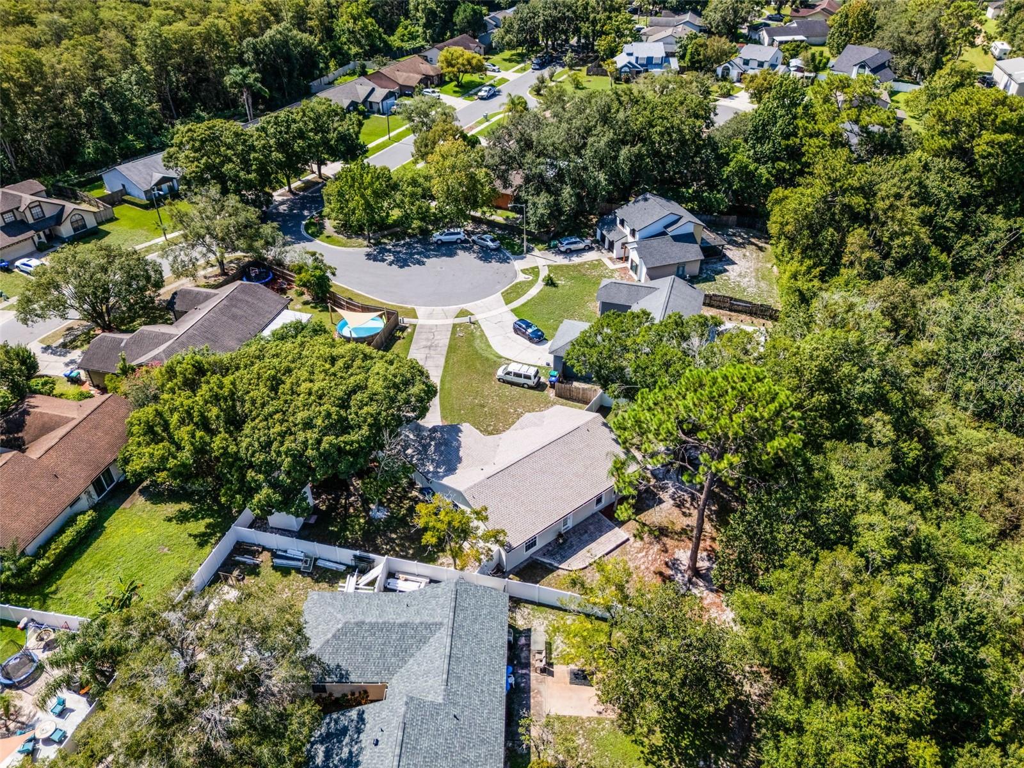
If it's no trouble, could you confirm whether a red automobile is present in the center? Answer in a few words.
No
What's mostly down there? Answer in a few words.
trees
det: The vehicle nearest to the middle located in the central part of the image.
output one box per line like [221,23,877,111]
[495,361,542,387]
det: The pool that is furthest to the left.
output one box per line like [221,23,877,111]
[335,316,386,348]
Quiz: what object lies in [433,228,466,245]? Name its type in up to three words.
car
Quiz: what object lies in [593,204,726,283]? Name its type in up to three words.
house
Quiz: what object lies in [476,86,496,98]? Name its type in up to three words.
vehicle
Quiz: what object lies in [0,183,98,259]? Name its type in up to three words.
house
